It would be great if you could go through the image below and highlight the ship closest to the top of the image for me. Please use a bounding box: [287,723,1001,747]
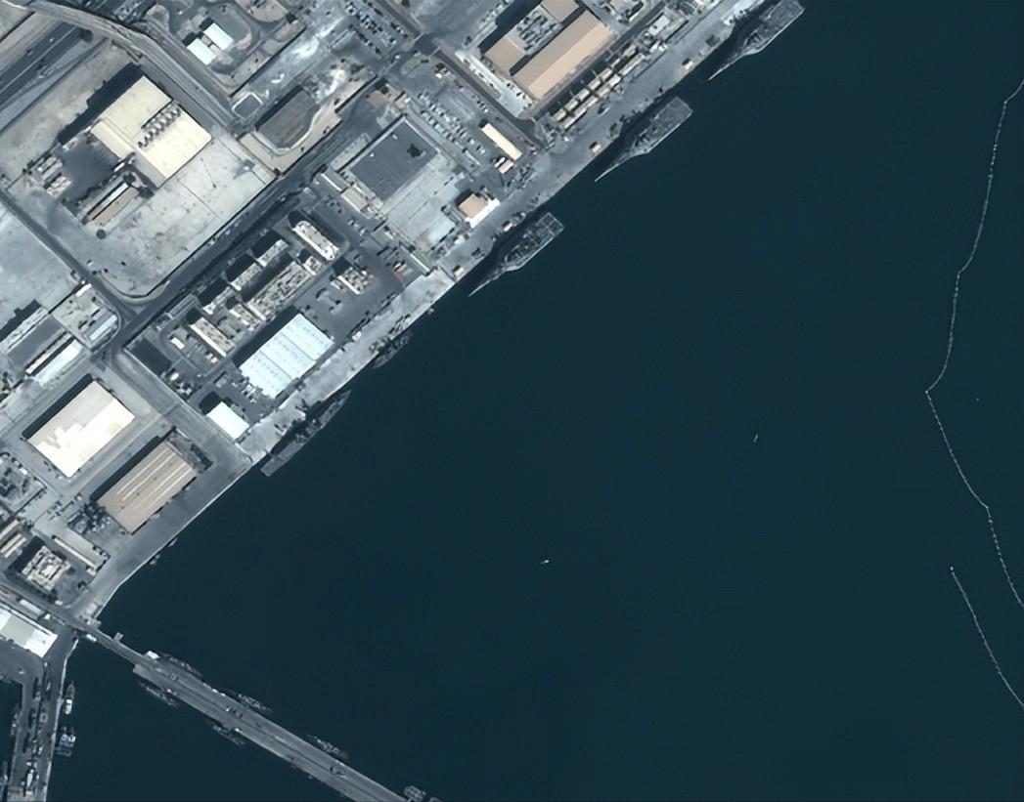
[708,0,808,80]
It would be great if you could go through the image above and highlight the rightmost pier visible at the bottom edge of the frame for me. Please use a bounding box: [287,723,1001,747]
[84,629,407,802]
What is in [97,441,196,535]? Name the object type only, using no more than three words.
hangar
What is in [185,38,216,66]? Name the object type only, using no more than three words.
building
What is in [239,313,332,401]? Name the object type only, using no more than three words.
building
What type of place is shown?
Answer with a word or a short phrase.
port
